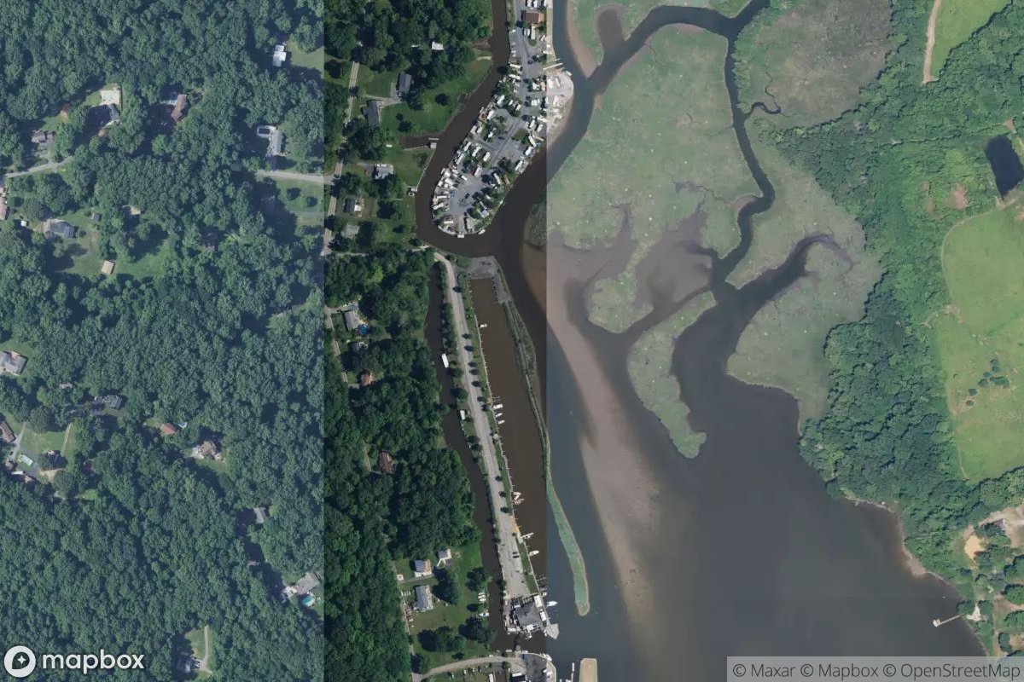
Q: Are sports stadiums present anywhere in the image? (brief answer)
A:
No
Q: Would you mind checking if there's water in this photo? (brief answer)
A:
Yes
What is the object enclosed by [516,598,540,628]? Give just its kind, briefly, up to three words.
building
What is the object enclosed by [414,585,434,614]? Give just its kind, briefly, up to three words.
house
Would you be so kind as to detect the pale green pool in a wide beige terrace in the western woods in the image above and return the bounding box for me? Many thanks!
[100,88,121,104]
